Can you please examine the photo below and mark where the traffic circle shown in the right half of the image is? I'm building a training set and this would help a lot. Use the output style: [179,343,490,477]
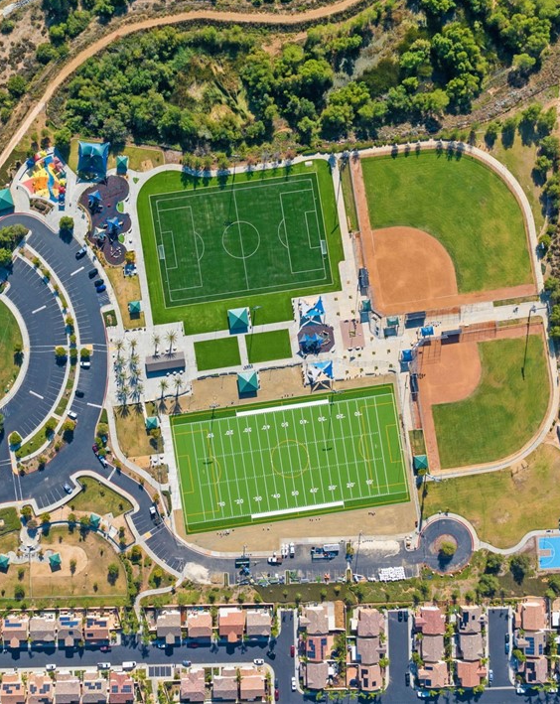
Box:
[420,520,472,571]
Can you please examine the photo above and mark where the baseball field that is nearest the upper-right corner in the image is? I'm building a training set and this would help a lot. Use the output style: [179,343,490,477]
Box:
[349,145,538,316]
